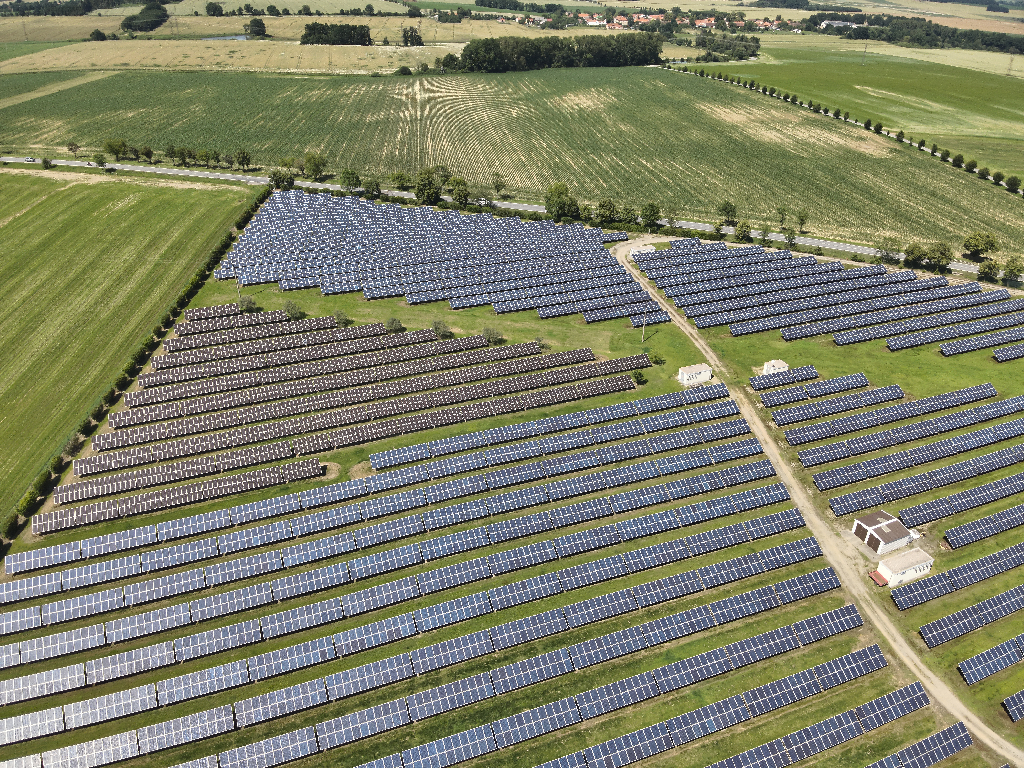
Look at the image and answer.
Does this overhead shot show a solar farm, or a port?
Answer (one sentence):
This image shows a solar farm.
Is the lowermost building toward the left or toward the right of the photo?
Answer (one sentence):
The lowermost building sits on the right side.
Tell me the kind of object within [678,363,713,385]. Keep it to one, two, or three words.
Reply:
building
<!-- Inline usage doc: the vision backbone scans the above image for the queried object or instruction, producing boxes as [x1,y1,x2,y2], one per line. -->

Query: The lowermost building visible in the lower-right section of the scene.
[876,546,937,588]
